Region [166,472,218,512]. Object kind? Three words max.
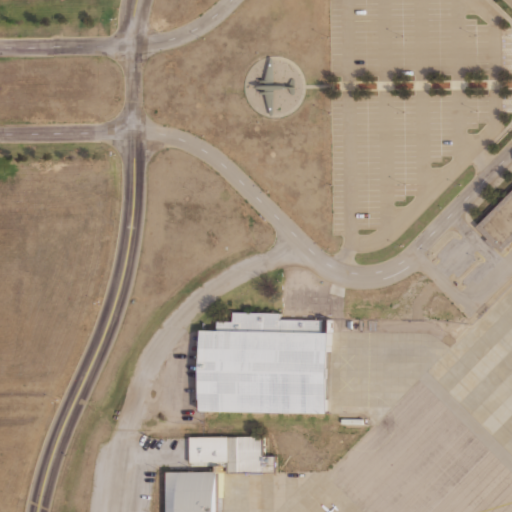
shed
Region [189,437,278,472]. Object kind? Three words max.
building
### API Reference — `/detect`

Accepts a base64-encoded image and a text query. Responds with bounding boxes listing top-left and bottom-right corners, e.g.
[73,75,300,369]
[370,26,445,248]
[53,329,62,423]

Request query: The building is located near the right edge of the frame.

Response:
[476,190,512,262]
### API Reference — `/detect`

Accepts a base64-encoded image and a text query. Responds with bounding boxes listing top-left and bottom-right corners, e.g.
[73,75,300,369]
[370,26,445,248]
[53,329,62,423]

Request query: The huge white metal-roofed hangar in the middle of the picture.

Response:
[196,312,336,414]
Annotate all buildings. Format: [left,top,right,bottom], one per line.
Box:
[196,312,336,414]
[189,437,278,472]
[166,472,218,512]
[476,190,512,262]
